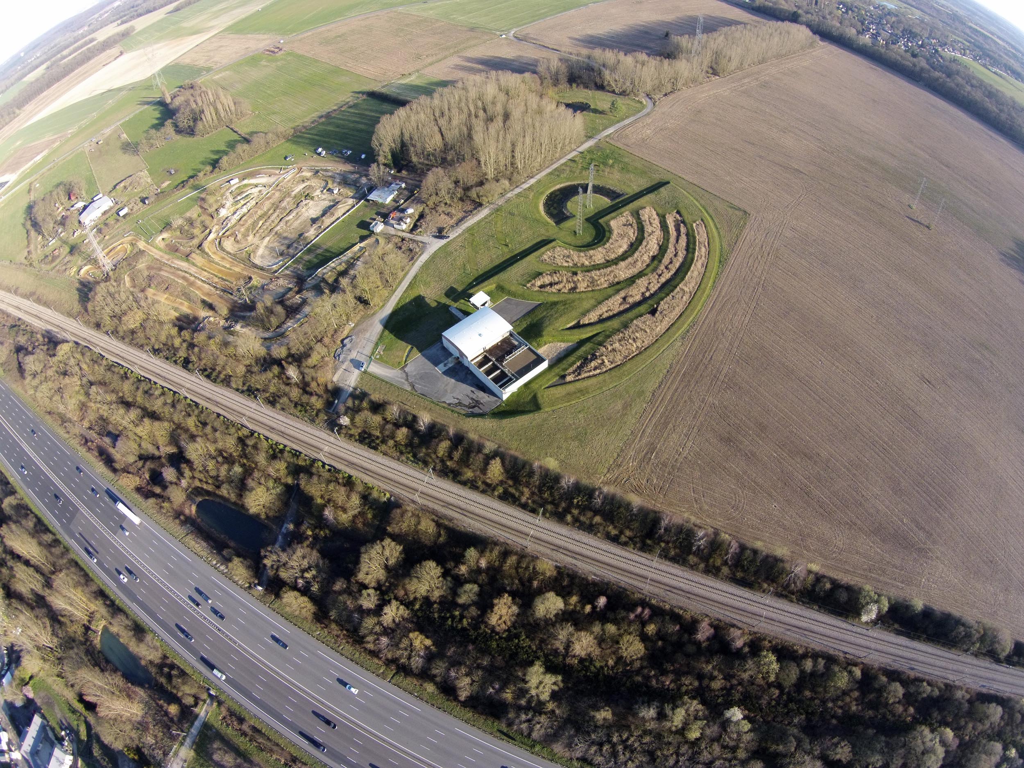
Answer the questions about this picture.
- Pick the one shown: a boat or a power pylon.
power pylon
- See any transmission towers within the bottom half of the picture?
No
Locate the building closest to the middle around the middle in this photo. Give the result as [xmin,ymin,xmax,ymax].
[442,305,548,399]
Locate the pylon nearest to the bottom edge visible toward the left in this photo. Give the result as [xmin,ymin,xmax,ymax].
[78,224,114,279]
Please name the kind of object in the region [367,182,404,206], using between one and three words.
building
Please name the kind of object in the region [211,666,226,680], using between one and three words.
vehicle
